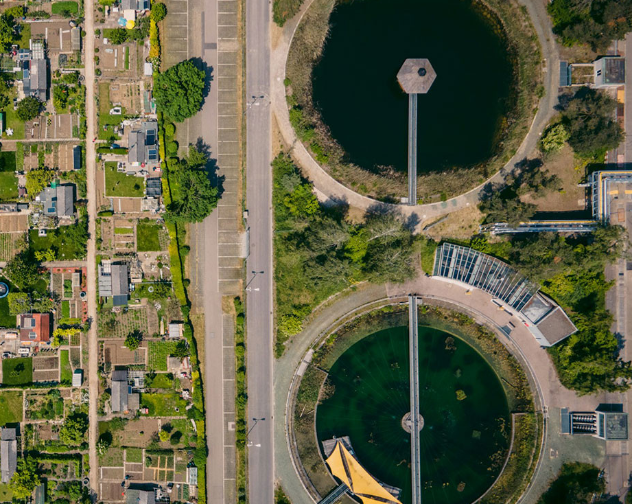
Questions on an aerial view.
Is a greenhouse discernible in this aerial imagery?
Yes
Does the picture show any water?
Yes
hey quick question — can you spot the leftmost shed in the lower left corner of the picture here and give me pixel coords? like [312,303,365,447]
[1,426,17,484]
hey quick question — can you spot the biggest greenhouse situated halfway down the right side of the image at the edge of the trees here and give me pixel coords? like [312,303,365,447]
[433,244,547,323]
